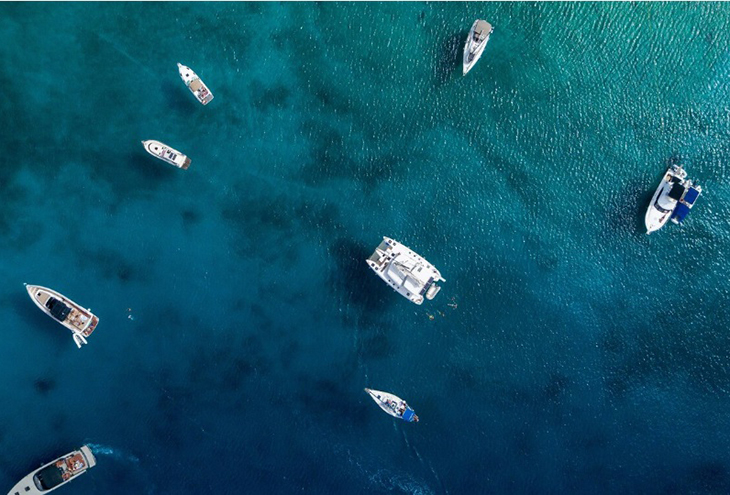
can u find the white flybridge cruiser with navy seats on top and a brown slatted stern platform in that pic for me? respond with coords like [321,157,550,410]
[140,139,192,170]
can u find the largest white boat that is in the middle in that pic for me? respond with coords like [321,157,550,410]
[366,237,445,305]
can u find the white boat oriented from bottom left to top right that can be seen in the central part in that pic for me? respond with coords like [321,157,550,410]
[427,282,442,300]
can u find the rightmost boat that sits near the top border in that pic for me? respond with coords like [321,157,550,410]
[463,18,492,77]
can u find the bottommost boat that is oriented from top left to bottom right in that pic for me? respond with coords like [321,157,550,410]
[364,389,418,429]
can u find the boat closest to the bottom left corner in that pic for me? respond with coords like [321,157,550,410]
[11,446,96,495]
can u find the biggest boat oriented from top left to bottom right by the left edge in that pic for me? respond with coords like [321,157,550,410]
[24,284,101,335]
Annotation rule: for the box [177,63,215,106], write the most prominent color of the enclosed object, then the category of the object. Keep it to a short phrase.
white boat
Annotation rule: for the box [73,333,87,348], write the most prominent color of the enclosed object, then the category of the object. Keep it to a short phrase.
white boat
